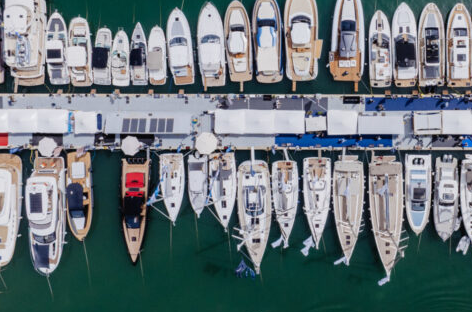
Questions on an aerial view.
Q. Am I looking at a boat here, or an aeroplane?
boat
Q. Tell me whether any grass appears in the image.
No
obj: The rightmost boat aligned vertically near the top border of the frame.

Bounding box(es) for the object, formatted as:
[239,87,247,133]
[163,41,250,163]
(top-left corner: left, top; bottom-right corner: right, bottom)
[441,0,472,99]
